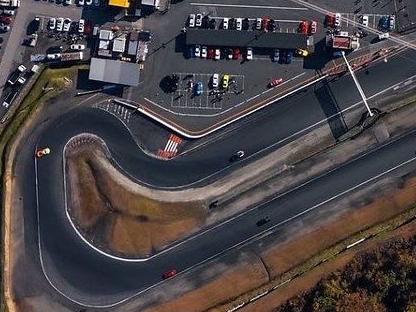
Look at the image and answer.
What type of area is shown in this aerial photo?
sports ground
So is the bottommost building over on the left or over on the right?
left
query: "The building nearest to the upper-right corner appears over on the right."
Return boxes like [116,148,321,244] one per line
[325,33,360,51]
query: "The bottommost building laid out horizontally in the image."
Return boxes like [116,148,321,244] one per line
[89,57,142,86]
